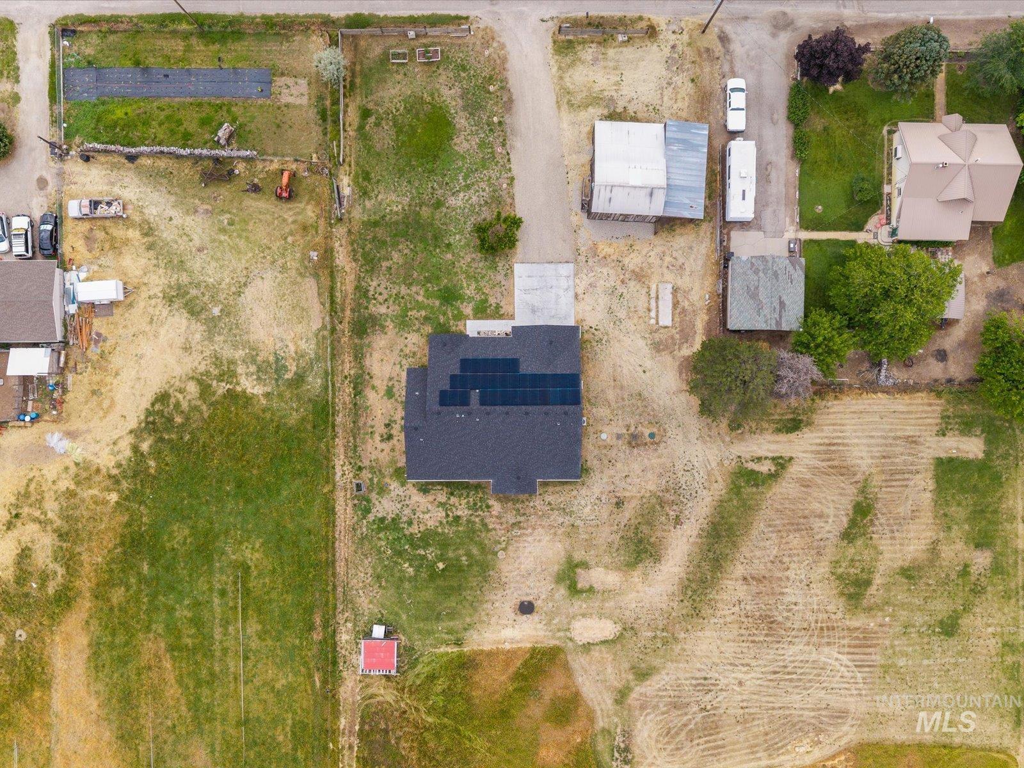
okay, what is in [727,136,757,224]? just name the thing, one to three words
vehicle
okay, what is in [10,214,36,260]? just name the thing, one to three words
car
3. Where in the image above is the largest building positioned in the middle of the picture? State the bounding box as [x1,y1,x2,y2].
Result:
[405,326,582,494]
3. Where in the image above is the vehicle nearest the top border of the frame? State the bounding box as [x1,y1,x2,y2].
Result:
[724,79,748,135]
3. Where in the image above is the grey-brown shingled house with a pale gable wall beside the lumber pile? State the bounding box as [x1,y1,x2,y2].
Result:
[0,259,71,343]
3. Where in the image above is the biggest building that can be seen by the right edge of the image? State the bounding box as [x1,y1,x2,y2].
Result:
[889,113,1023,241]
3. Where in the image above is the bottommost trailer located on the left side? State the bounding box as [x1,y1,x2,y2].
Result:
[74,280,136,304]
